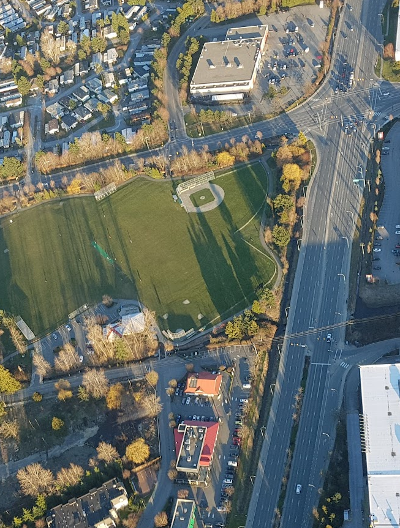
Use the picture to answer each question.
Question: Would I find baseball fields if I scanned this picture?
Yes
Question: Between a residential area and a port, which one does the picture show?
residential area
